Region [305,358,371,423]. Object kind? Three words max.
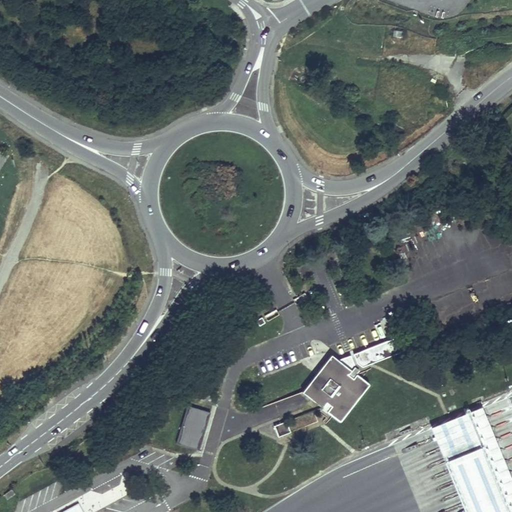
building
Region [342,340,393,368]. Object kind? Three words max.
building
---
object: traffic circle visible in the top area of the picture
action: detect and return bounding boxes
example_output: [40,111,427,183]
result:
[106,70,354,304]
